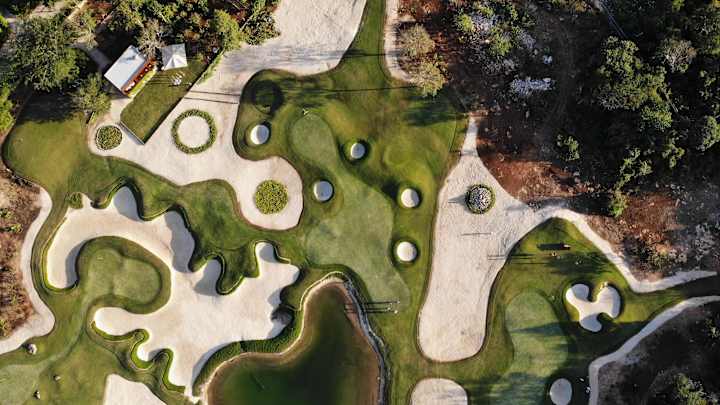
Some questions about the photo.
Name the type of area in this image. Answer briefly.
golf course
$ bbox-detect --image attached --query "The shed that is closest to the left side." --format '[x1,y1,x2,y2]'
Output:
[103,45,155,96]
